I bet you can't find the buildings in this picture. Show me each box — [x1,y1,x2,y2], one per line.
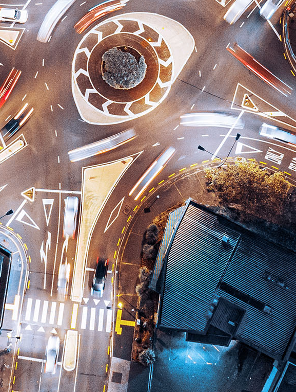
[153,197,296,358]
[0,238,17,330]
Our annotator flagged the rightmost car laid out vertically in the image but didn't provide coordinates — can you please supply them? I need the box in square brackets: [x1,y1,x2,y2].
[92,260,106,291]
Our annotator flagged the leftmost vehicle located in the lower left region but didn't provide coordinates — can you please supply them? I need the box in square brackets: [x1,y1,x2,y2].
[45,337,59,369]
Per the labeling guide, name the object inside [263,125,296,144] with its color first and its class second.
white car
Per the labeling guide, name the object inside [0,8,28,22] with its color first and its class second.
white car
